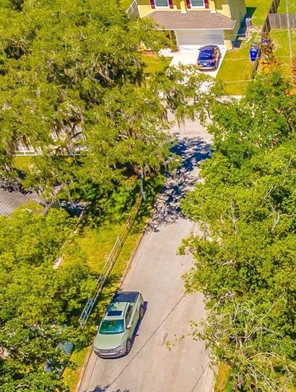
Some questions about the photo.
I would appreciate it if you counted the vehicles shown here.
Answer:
two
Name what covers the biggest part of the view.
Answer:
trees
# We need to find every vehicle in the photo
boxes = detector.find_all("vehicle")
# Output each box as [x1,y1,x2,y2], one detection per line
[94,285,144,351]
[196,45,220,66]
